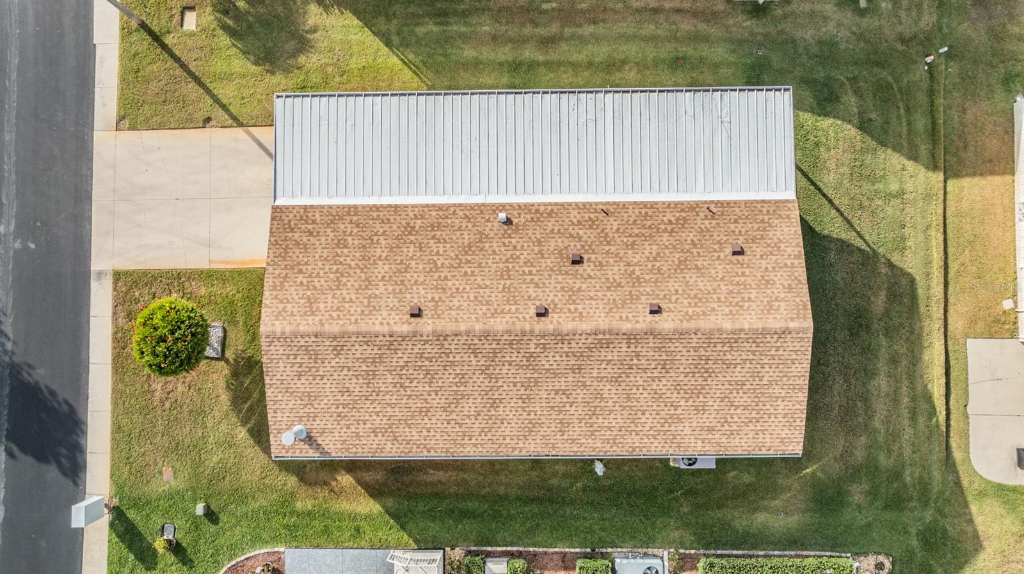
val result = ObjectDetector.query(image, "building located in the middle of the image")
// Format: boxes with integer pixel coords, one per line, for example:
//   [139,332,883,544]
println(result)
[261,87,813,461]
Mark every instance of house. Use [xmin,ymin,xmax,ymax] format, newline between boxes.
[1007,100,1024,345]
[261,87,813,461]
